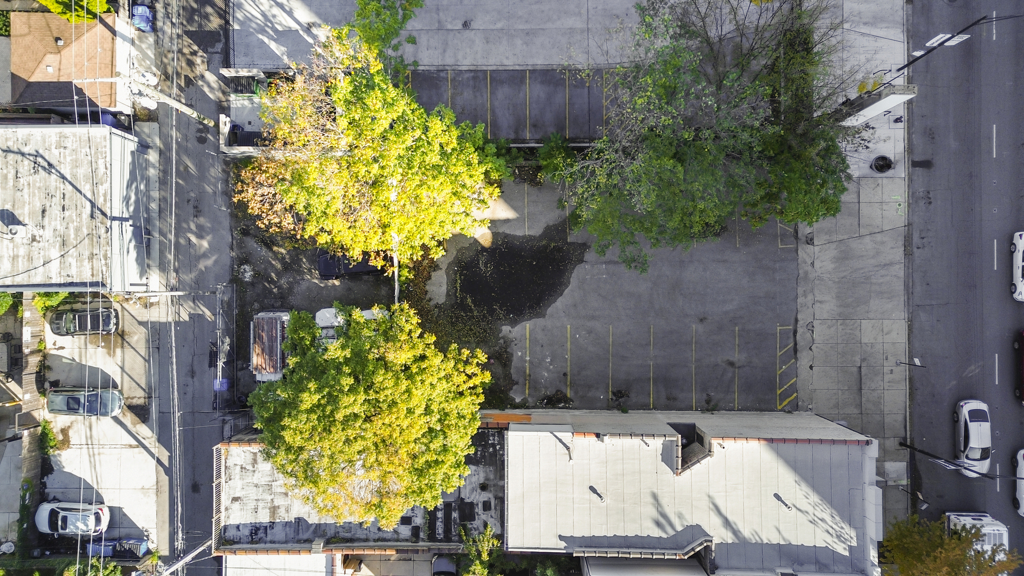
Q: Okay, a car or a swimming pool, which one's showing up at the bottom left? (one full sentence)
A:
The feature located at the bottom left is a car.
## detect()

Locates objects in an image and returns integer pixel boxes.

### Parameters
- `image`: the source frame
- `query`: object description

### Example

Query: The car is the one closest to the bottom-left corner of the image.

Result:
[37,501,114,538]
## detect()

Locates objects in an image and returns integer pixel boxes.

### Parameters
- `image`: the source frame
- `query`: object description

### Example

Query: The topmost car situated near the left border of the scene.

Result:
[51,306,122,339]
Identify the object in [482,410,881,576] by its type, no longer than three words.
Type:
building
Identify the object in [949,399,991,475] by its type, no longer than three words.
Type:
car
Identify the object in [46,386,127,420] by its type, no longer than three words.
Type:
car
